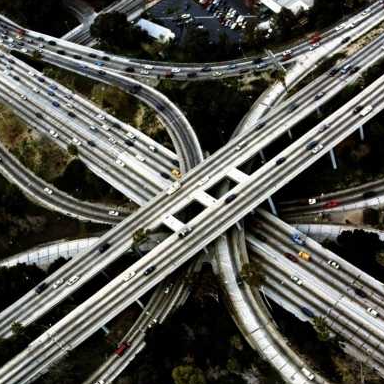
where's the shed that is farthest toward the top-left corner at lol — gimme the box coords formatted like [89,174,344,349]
[135,25,176,46]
